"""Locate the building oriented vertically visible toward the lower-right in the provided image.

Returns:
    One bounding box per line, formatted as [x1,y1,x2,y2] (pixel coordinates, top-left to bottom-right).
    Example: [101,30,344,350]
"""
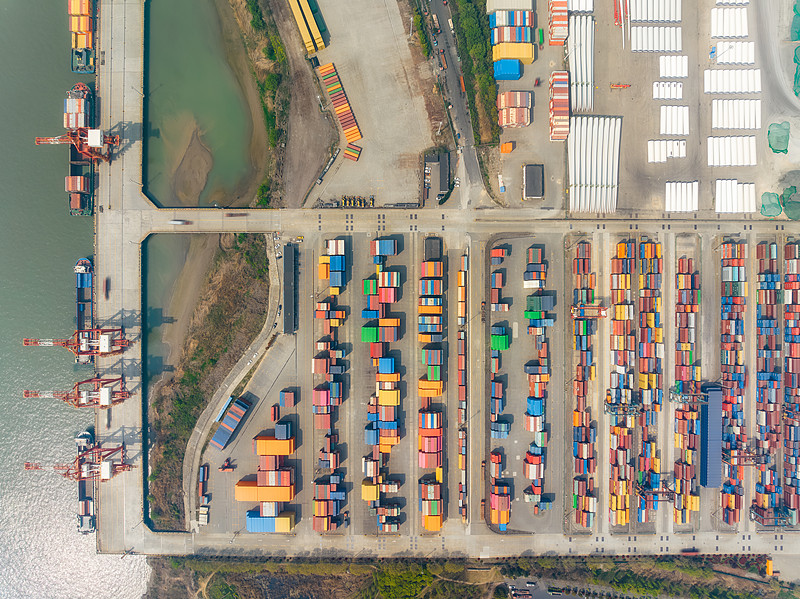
[701,388,722,487]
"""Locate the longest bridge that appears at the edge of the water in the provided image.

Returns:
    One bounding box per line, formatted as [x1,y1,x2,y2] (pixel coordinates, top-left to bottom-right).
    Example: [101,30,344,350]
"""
[157,208,277,235]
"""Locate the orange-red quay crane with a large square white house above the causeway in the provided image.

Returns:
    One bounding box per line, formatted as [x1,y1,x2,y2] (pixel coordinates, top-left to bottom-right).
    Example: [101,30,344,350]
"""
[38,127,116,167]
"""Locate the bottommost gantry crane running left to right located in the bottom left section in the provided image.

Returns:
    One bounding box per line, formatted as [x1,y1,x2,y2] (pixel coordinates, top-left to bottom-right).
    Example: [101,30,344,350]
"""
[23,437,123,483]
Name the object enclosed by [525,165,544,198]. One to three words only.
building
